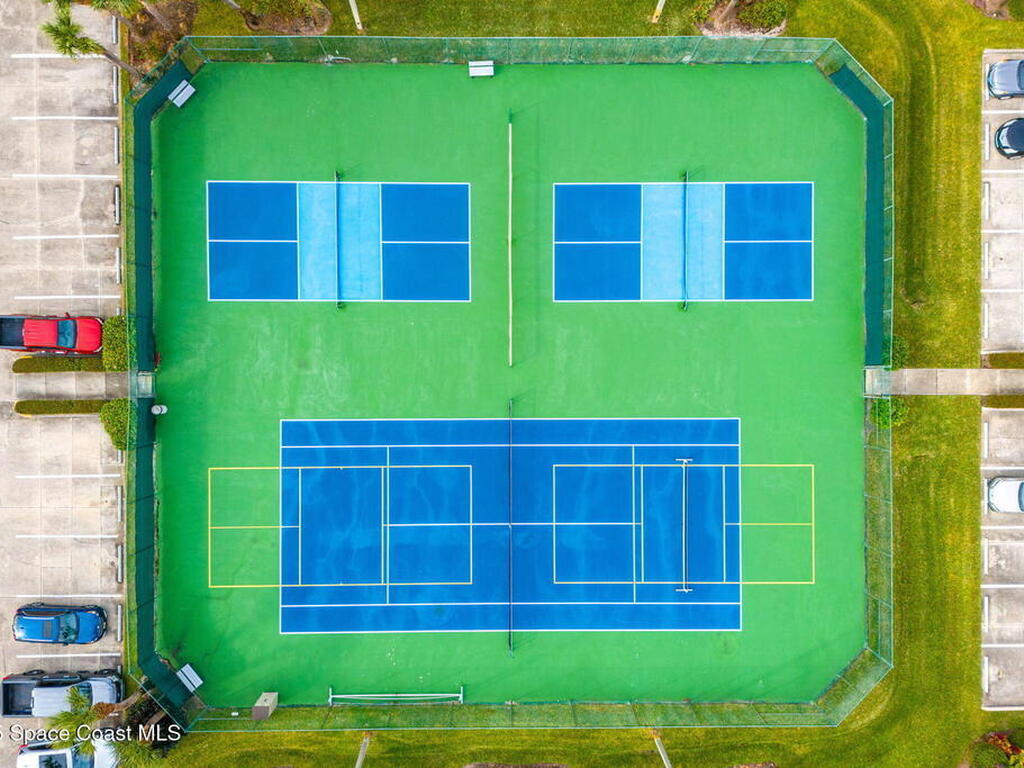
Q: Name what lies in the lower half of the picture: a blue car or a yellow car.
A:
blue car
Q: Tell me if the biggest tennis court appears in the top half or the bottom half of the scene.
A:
bottom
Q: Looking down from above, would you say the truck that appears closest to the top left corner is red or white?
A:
red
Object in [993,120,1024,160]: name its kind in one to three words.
car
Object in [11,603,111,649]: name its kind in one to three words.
car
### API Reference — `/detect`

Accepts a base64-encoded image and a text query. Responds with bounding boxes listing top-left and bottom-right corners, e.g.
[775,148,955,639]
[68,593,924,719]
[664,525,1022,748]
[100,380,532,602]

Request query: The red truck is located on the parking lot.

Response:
[0,310,106,353]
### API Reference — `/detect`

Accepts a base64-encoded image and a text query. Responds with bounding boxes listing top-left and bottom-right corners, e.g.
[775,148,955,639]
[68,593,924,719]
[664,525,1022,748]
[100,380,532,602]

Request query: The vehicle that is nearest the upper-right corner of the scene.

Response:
[984,58,1024,103]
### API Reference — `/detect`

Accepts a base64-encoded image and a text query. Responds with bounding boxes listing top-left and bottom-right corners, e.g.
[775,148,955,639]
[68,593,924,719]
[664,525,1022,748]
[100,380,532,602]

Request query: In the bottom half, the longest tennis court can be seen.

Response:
[280,418,742,634]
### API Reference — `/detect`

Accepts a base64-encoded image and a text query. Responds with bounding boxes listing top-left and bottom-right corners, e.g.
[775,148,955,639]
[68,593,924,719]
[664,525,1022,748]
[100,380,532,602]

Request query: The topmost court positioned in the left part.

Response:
[206,181,471,302]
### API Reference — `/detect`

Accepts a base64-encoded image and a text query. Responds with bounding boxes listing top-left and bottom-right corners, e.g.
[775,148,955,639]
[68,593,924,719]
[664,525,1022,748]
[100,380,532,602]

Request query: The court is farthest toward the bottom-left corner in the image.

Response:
[208,465,472,588]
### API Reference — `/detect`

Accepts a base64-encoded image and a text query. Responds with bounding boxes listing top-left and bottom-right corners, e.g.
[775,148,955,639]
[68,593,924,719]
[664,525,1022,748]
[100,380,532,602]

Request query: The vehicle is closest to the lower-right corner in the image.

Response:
[986,477,1024,514]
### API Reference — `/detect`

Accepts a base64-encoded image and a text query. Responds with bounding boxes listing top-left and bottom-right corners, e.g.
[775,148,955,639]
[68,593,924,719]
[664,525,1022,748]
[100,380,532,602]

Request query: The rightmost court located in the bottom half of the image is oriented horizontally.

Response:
[553,464,815,584]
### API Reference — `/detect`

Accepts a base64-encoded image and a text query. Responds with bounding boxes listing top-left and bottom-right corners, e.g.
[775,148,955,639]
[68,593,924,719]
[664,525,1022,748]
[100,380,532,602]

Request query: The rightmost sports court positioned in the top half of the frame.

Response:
[553,182,814,302]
